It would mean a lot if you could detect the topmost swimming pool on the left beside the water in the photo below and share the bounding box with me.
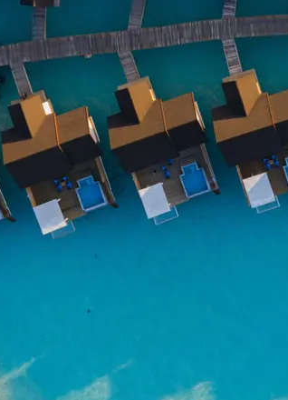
[78,181,108,215]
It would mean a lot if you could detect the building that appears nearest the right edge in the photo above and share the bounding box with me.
[213,70,288,218]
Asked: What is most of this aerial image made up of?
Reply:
water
